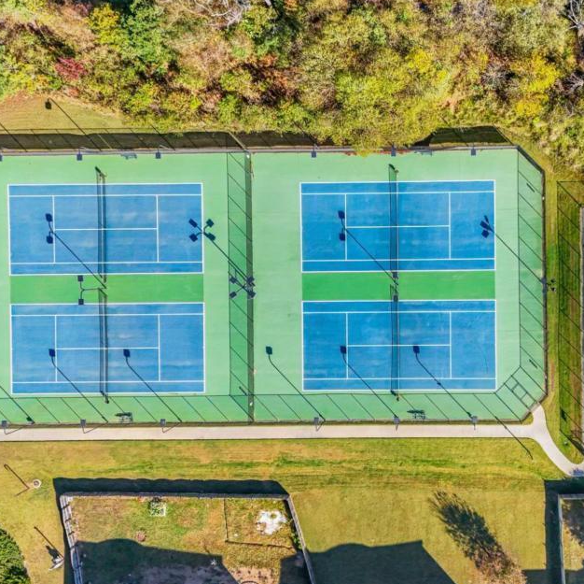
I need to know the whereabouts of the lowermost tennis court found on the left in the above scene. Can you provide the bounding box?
[10,303,206,395]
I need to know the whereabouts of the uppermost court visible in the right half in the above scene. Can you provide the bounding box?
[301,180,495,272]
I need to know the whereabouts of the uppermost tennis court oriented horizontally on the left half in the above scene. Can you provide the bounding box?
[9,184,203,275]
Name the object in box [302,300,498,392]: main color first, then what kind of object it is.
blue tennis court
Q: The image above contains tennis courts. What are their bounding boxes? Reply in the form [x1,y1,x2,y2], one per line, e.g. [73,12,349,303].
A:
[9,184,203,275]
[10,303,206,395]
[302,300,498,392]
[301,180,495,272]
